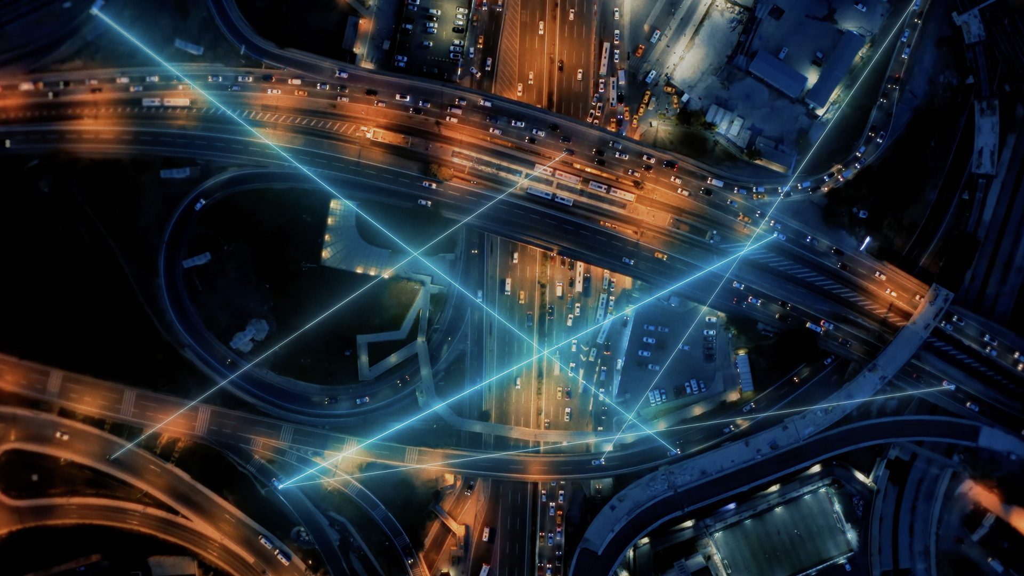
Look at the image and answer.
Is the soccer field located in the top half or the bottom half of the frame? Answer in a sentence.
The bottom half of the photo is where the soccer field is.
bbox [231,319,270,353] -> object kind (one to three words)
building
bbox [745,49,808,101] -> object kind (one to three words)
building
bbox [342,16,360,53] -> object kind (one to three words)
shed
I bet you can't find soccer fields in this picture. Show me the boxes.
[713,492,855,576]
